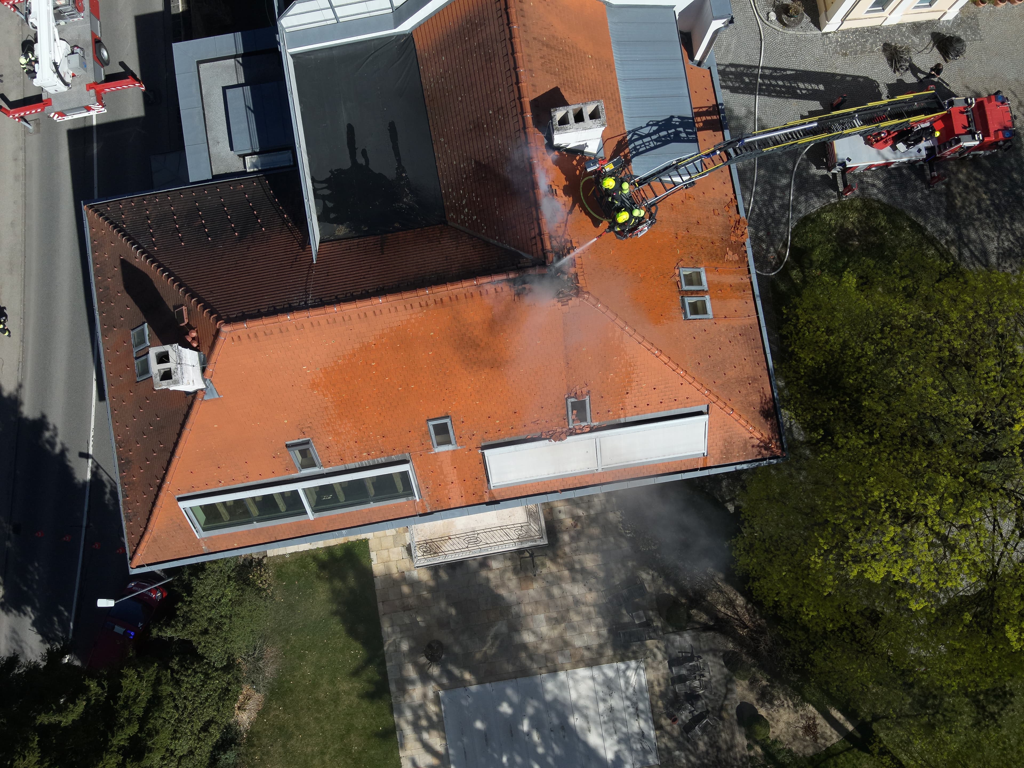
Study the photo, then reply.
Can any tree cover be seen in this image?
Yes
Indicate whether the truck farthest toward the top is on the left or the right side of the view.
left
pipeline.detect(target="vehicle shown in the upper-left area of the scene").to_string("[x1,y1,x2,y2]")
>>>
[0,0,156,135]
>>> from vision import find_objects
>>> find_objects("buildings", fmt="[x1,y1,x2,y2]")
[818,0,973,35]
[76,0,795,575]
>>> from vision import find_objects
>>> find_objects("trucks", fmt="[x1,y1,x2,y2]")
[0,0,156,135]
[585,73,1024,242]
